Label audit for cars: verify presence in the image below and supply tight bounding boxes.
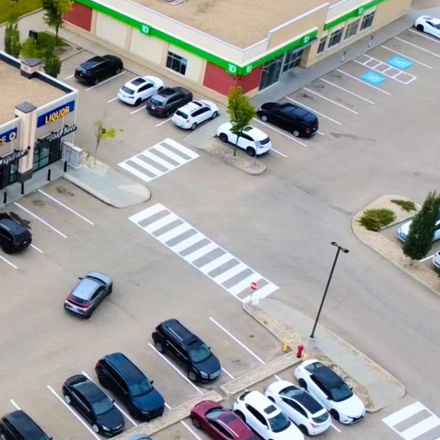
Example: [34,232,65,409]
[155,324,221,381]
[191,403,260,440]
[266,379,337,438]
[143,87,189,117]
[99,359,163,420]
[231,389,300,440]
[0,412,49,440]
[391,204,435,241]
[174,98,219,128]
[62,376,127,437]
[118,76,162,104]
[76,55,122,84]
[299,364,369,425]
[416,16,440,37]
[0,212,30,252]
[259,102,317,137]
[427,244,440,271]
[67,273,115,318]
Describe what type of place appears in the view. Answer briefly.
parking lot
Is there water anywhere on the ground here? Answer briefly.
No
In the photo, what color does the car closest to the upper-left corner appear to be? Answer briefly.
black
